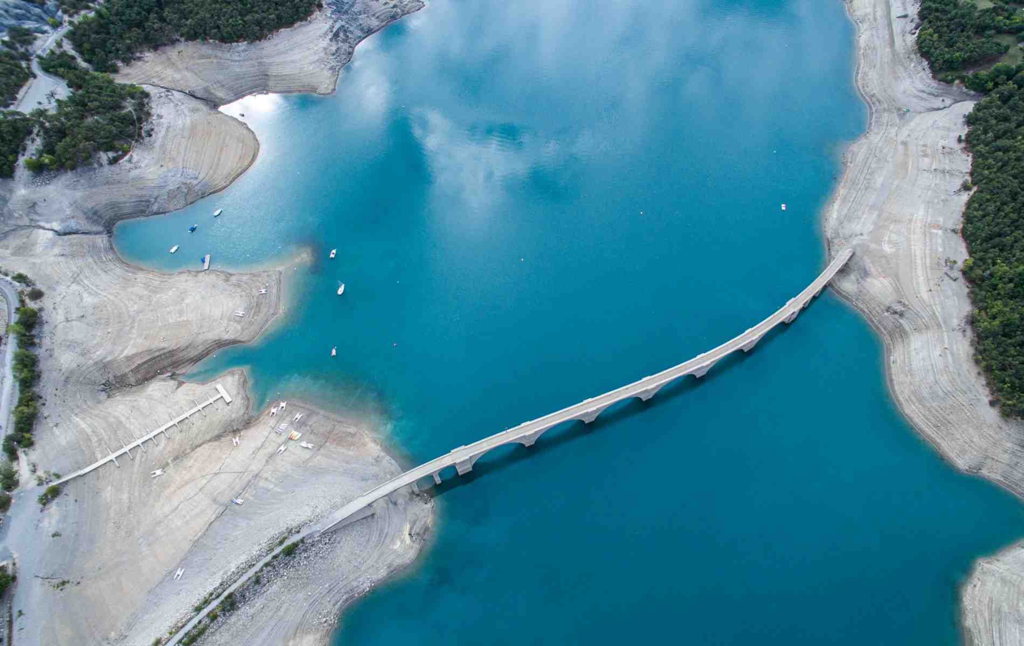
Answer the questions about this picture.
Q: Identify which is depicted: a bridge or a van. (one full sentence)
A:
Visible in the photo is a bridge.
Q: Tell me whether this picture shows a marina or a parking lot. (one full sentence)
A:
This looks like a marina.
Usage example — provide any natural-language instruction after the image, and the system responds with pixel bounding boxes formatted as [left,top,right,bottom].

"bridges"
[317,249,854,533]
